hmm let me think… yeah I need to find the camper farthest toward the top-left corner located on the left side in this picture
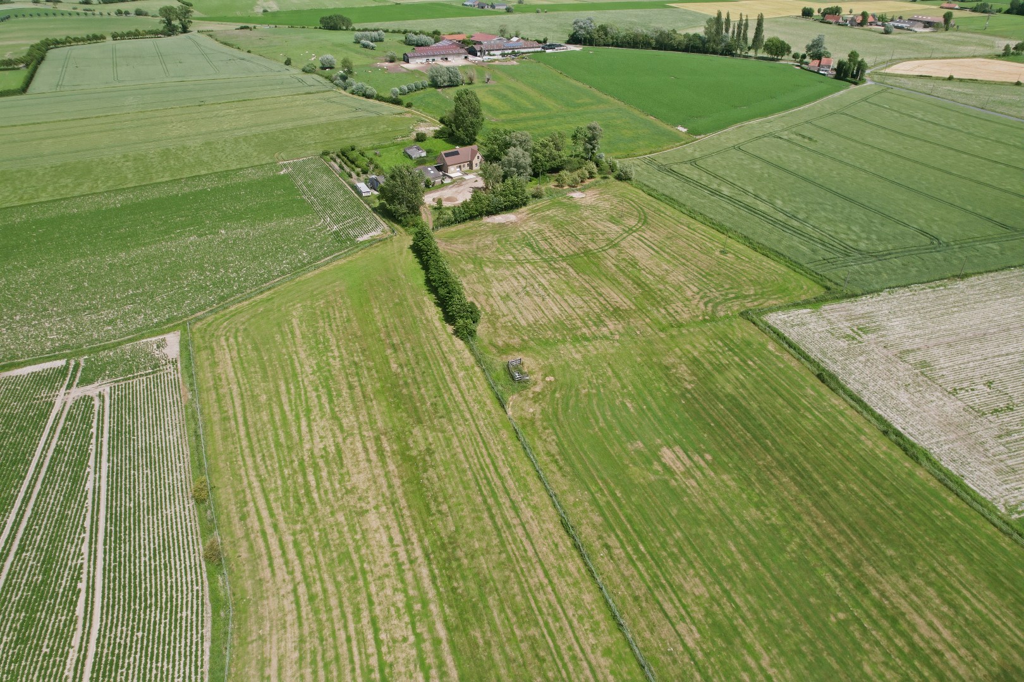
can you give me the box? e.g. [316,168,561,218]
[355,180,370,194]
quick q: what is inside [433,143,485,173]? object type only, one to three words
house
